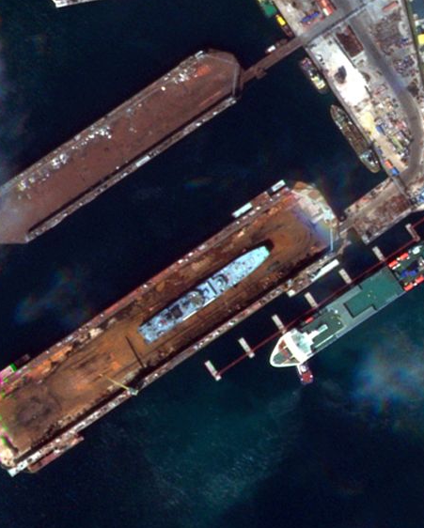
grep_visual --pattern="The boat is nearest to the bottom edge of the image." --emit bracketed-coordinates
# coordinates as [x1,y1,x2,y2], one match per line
[300,362,314,385]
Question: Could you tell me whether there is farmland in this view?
No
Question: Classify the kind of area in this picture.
port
